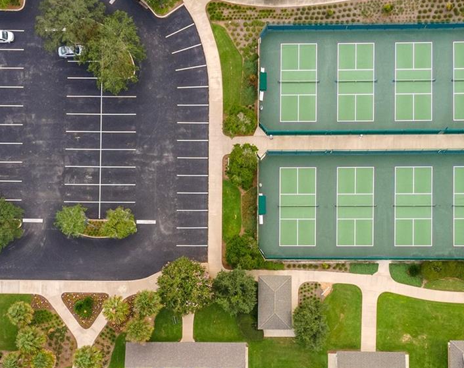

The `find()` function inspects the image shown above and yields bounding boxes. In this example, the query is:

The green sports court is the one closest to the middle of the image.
[278,167,319,245]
